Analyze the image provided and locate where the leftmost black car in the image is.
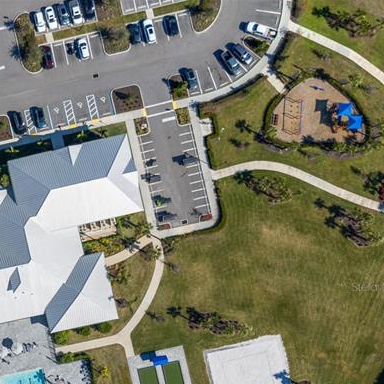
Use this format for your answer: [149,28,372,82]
[12,111,24,133]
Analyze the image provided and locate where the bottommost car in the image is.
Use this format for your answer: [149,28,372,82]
[155,210,177,223]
